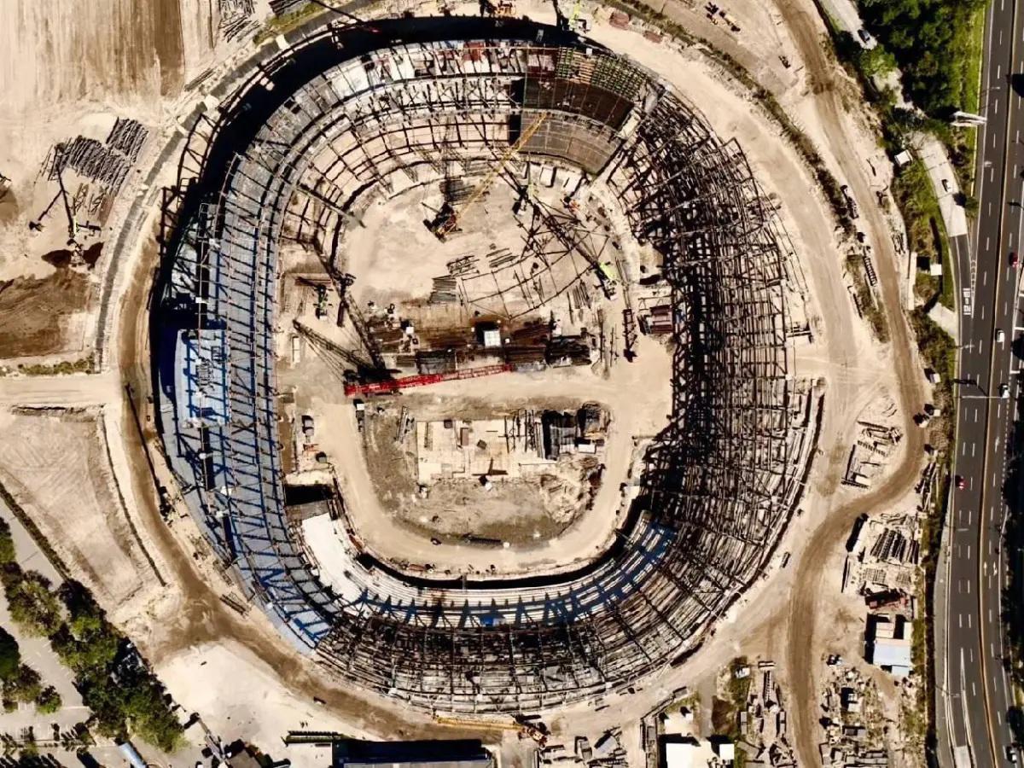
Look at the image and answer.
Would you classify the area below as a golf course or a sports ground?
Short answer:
sports ground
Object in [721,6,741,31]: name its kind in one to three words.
vehicle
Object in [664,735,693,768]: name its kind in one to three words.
building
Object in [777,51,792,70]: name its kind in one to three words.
vehicle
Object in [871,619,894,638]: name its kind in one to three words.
building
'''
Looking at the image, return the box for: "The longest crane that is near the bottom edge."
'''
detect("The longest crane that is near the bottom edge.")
[432,714,550,746]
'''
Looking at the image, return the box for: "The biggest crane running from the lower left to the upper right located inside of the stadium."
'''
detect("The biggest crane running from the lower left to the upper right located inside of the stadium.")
[422,111,549,243]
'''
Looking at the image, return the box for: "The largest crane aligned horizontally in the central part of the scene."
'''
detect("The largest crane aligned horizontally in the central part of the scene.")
[343,362,517,394]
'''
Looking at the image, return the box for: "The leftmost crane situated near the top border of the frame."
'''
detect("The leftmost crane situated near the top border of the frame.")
[308,0,395,42]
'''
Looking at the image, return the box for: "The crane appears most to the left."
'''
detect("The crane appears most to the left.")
[63,212,98,250]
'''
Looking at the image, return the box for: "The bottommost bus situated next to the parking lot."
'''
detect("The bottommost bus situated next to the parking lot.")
[120,746,147,768]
